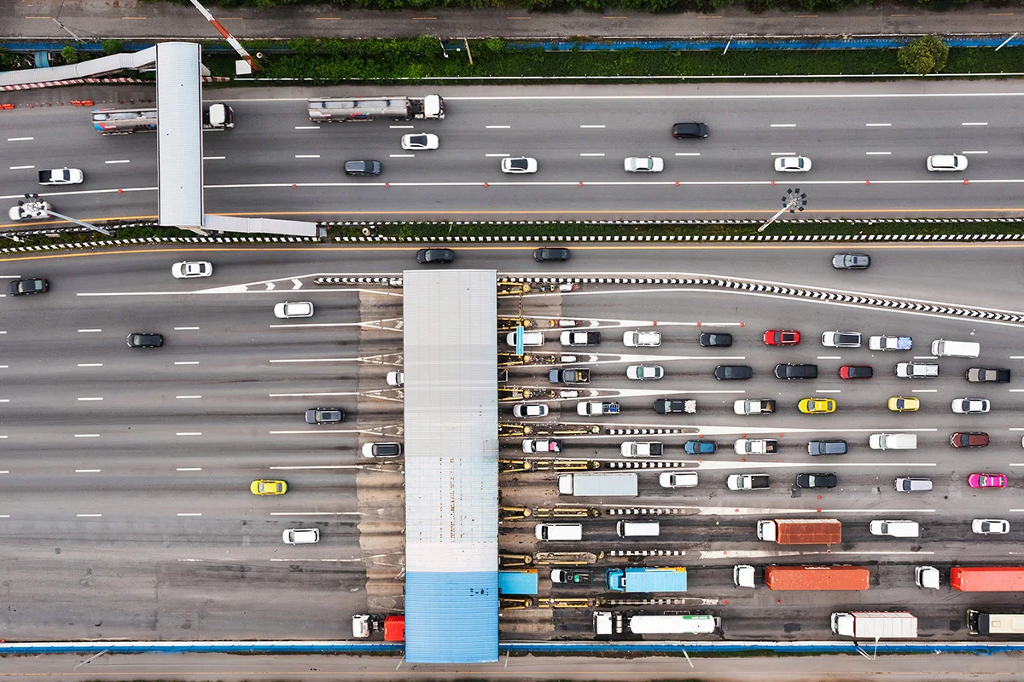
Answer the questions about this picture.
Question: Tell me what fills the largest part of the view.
paved ground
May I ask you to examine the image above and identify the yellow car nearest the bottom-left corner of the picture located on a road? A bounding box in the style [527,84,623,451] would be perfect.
[250,479,289,496]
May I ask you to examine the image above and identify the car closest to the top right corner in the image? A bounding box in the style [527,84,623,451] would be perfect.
[924,153,967,172]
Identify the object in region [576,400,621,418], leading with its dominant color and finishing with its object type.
white vehicle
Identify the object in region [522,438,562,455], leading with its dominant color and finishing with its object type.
white vehicle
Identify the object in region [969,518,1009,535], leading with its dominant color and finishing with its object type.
white car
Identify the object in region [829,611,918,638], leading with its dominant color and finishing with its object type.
white truck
